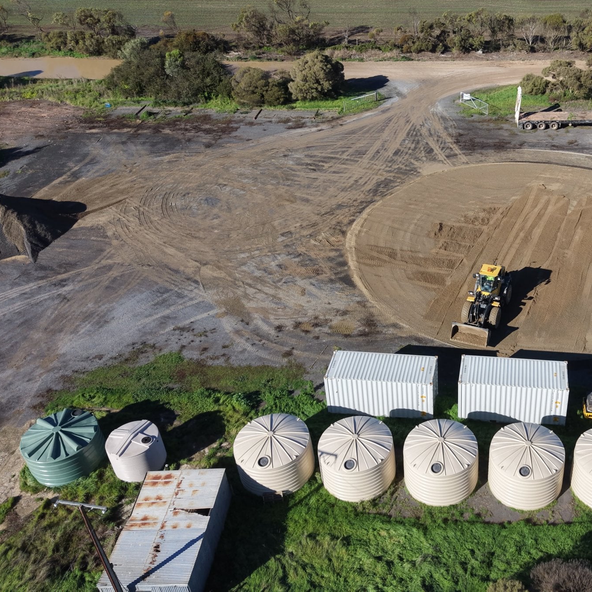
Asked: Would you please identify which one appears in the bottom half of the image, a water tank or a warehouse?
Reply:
water tank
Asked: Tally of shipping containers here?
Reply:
2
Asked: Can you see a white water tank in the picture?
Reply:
Yes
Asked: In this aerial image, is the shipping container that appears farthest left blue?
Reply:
No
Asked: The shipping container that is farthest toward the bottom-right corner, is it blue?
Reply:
No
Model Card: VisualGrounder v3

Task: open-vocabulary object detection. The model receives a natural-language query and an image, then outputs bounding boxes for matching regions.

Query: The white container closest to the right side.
[458,355,569,425]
